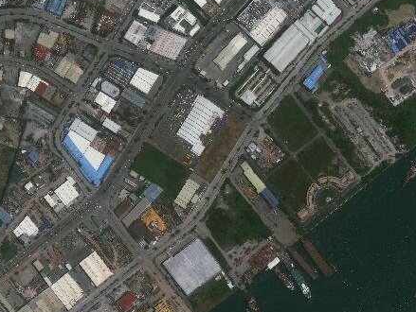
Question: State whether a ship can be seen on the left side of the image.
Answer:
No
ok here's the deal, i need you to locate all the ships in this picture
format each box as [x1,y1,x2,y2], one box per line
[248,294,261,312]
[301,240,335,276]
[288,249,316,280]
[291,268,311,300]
[274,266,294,292]
[400,163,416,187]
